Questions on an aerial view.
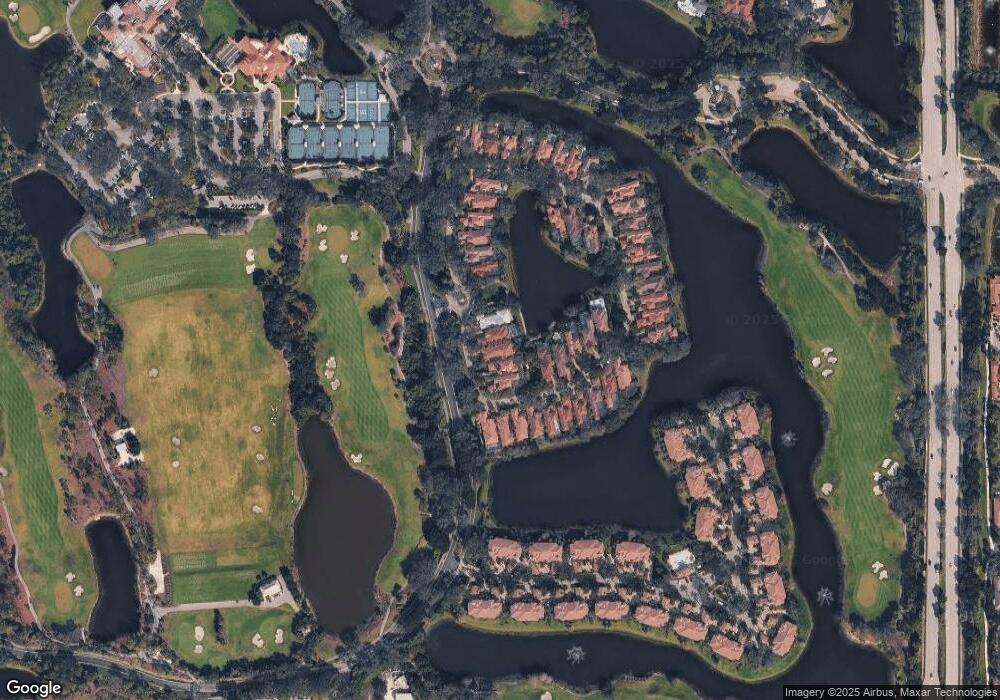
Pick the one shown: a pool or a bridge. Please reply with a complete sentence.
It is a pool that can be seen here.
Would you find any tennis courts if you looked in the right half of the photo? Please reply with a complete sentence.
No, there is no tennis court in the right half of the photo.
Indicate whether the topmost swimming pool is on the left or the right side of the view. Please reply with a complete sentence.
The topmost swimming pool sits on the left side.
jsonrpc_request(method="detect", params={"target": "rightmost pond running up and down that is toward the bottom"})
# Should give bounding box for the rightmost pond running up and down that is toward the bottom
[86,517,140,639]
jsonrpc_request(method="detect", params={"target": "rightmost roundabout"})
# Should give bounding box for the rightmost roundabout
[694,78,743,124]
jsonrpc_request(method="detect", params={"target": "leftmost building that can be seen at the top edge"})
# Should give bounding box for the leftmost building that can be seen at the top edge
[99,0,182,79]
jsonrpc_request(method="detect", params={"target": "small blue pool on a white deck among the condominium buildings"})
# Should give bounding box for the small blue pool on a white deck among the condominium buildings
[667,550,696,571]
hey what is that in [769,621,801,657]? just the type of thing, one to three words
building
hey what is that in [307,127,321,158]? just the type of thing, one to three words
tennis court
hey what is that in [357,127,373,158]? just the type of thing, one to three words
tennis court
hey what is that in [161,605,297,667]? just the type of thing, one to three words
golf course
